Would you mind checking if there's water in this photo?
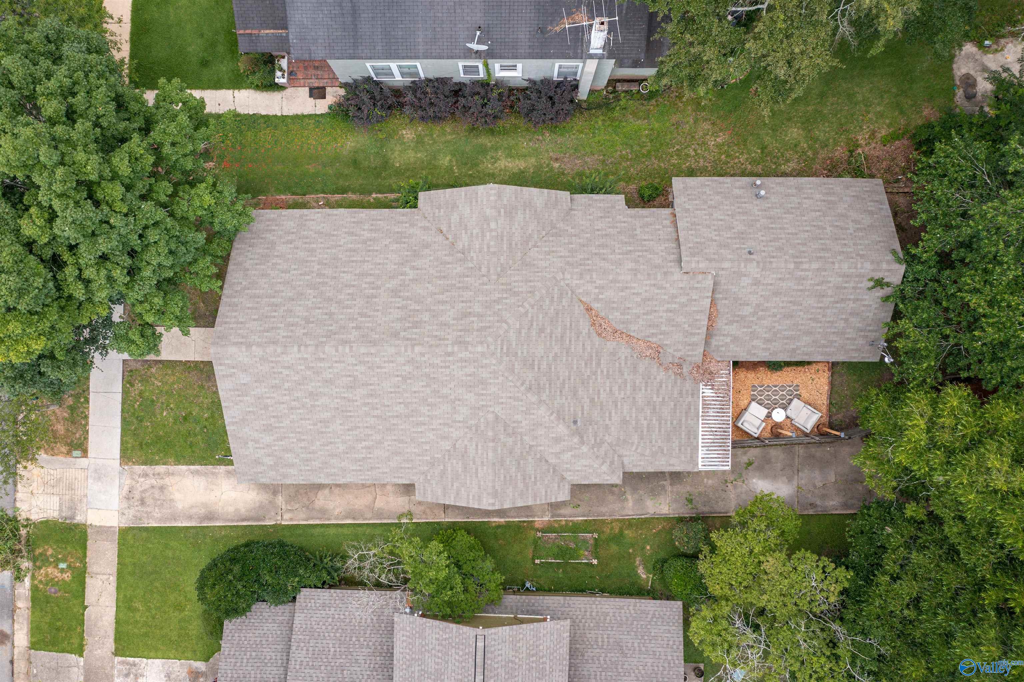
No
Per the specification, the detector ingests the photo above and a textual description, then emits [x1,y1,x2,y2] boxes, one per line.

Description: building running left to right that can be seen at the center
[211,176,905,510]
